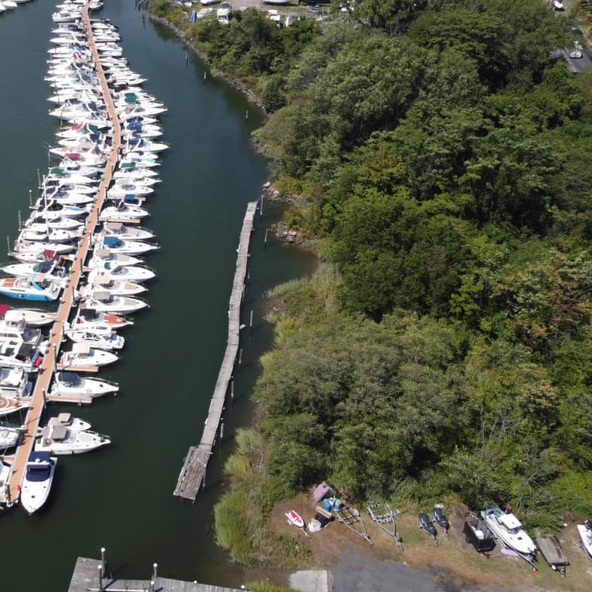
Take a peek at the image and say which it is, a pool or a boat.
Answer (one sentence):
It is a boat that can be seen here.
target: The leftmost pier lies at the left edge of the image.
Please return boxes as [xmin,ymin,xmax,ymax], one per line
[0,0,144,504]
